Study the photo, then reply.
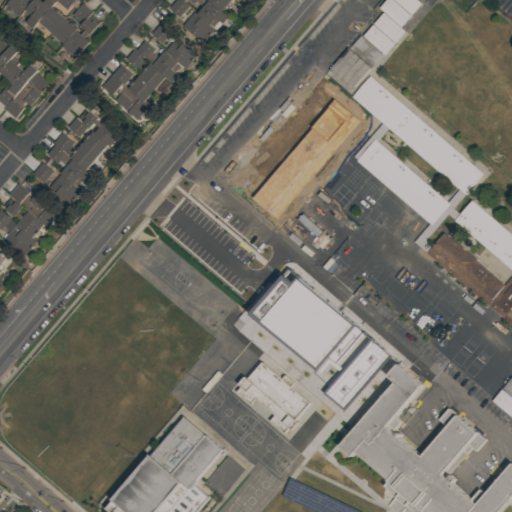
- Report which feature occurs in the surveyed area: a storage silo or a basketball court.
basketball court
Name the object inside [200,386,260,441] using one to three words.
basketball court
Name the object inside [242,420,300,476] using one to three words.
basketball court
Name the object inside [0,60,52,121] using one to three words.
house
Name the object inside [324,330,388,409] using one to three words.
building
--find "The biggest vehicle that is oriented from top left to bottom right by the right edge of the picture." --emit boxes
[491,319,510,336]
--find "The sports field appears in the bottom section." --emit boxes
[0,264,216,512]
